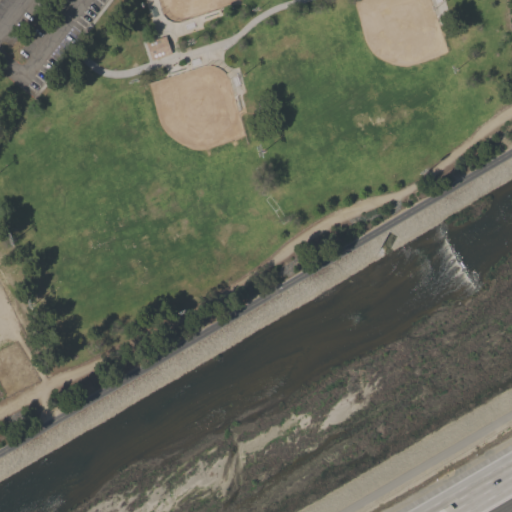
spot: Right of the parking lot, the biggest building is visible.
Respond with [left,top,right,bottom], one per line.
[146,36,172,60]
